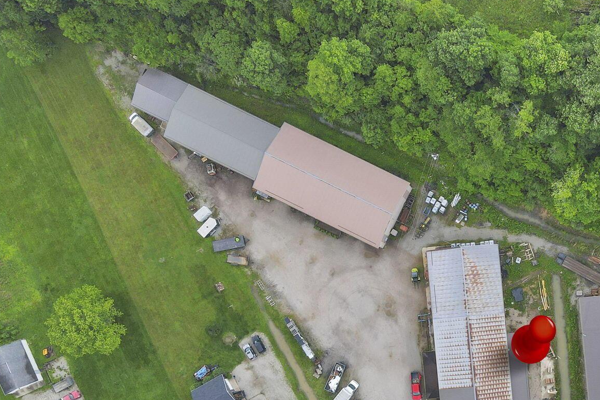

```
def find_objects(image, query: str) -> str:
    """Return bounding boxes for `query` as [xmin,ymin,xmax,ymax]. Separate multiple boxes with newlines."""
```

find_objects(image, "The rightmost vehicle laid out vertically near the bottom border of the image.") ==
[410,370,423,400]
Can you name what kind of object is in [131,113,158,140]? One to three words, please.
truck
